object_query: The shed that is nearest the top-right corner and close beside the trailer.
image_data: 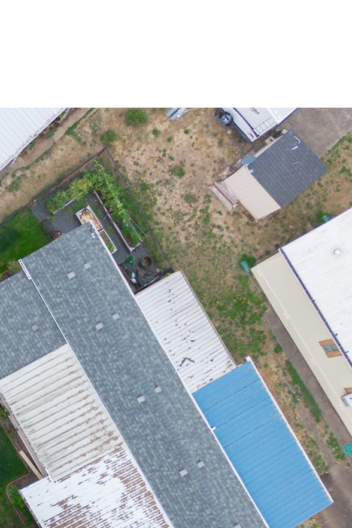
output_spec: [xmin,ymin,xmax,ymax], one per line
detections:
[228,130,325,217]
